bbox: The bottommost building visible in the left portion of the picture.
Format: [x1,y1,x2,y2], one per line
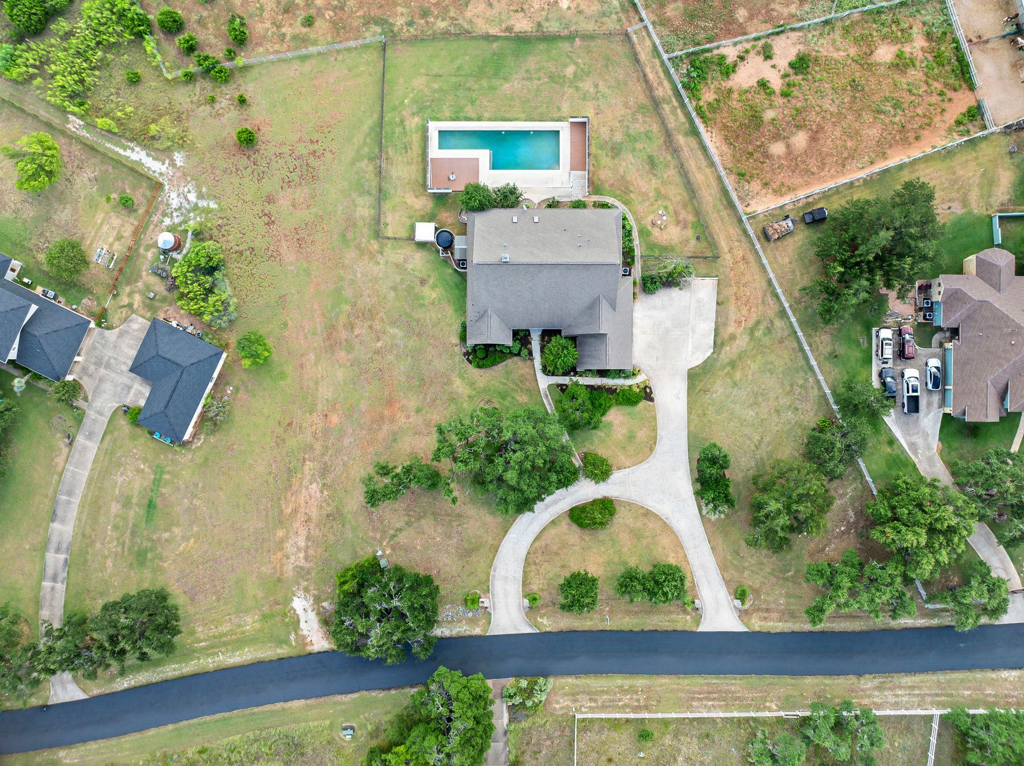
[128,318,231,444]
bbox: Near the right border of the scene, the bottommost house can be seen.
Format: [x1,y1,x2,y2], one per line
[928,247,1024,422]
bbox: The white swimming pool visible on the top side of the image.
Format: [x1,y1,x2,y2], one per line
[426,113,592,207]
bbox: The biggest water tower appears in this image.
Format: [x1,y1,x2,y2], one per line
[154,228,188,255]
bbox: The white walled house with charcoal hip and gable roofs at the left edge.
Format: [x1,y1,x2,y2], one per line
[0,253,100,382]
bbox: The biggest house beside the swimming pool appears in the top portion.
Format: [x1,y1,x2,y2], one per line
[467,204,633,370]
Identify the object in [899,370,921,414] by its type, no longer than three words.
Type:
truck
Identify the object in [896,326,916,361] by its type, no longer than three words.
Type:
car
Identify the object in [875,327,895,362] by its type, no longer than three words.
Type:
car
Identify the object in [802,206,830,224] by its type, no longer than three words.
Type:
vehicle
